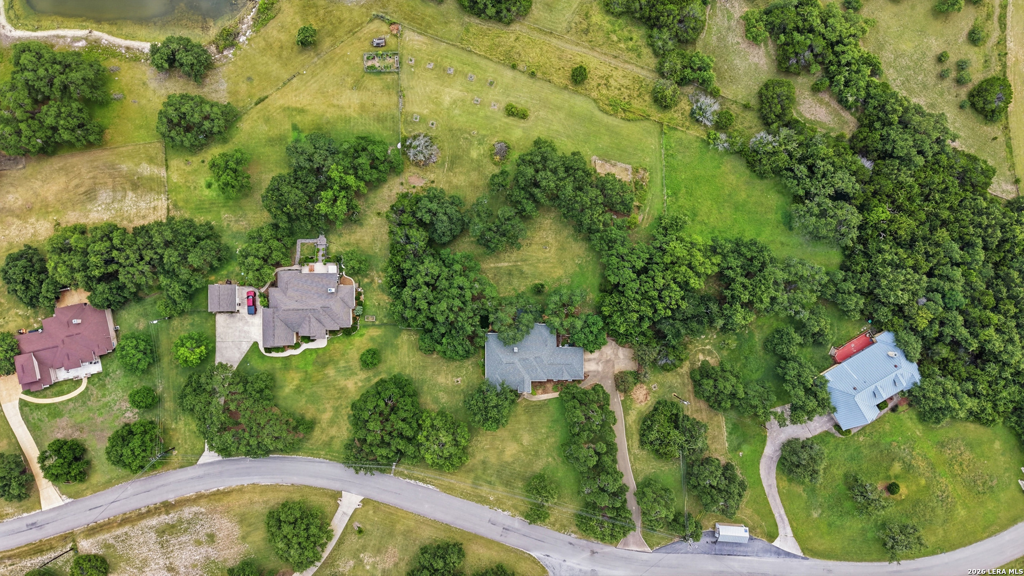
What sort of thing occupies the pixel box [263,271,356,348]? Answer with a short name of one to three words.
house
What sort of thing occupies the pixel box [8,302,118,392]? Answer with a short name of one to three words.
house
